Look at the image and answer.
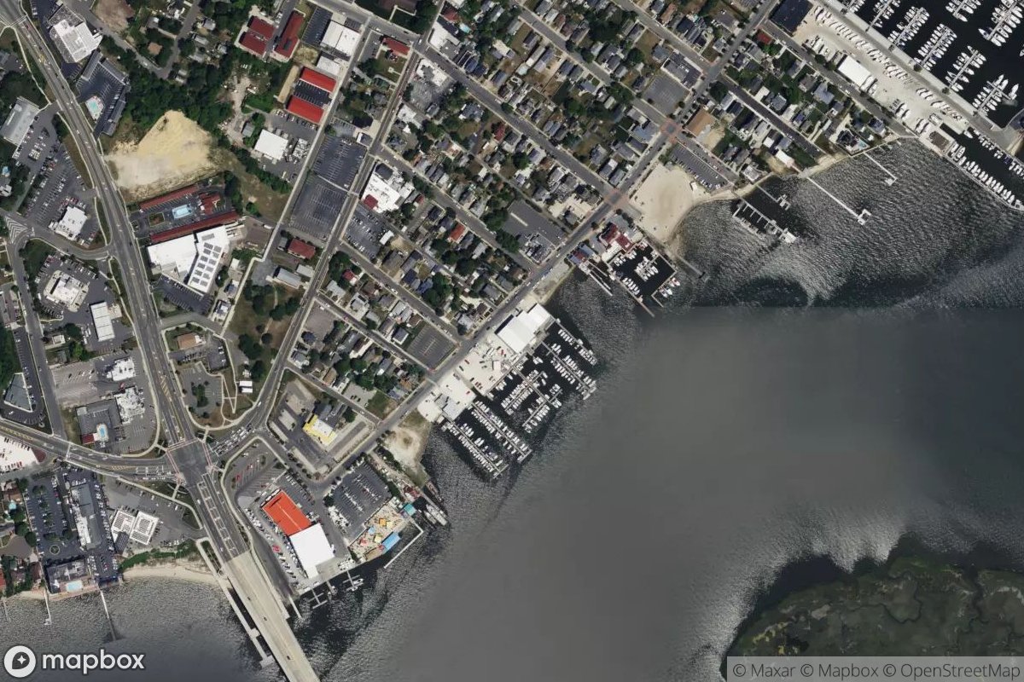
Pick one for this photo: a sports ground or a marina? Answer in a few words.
marina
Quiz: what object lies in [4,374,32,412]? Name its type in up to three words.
building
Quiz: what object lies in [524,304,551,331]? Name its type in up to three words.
shed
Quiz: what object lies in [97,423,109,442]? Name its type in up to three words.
swimming pool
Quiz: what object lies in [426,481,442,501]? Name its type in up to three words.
boat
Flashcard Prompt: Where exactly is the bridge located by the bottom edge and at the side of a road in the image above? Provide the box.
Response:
[218,542,317,682]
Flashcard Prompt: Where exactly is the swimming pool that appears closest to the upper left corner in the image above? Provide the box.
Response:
[85,95,104,117]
